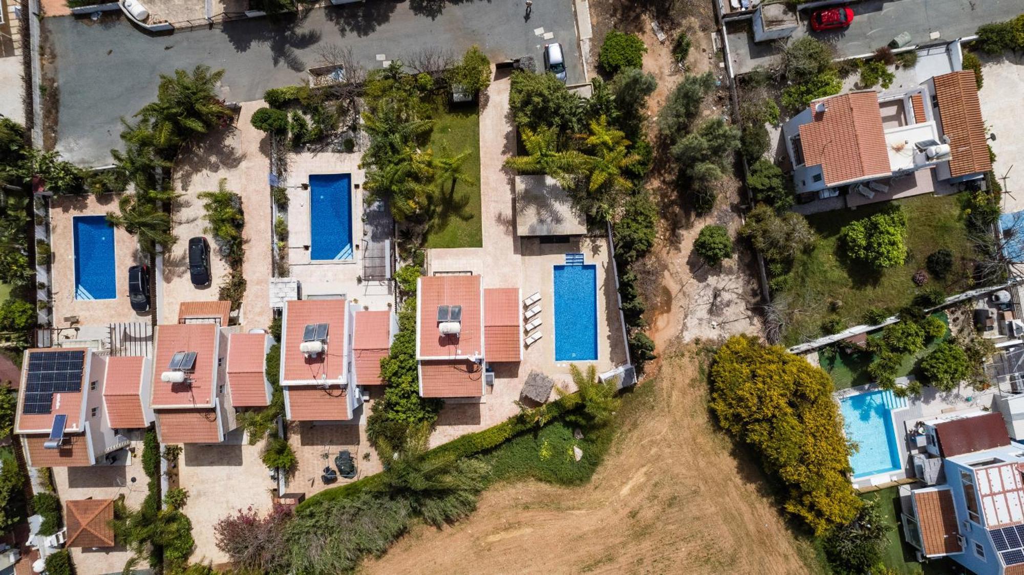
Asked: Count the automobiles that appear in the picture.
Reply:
4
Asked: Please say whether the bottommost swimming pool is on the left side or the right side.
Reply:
right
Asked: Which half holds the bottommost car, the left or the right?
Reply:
left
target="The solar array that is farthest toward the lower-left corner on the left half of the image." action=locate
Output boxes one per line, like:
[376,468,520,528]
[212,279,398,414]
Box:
[23,351,85,414]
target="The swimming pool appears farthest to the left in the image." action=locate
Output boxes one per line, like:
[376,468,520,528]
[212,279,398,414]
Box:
[71,214,118,301]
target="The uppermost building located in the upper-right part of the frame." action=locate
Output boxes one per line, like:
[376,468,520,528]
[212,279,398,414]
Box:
[753,4,800,43]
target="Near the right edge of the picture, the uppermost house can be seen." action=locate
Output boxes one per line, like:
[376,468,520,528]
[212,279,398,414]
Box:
[782,69,993,194]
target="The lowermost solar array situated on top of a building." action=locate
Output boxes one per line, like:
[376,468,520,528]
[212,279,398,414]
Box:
[988,525,1024,556]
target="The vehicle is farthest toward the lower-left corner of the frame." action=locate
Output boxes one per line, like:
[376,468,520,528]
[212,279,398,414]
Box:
[125,264,150,312]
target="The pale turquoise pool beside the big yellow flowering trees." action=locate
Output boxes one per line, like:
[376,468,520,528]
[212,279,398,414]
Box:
[835,386,911,484]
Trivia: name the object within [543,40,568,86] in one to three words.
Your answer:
car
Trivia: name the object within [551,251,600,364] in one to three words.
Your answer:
swimming pool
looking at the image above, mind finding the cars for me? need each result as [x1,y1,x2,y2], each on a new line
[125,264,150,312]
[543,40,568,86]
[808,6,852,33]
[186,238,214,286]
